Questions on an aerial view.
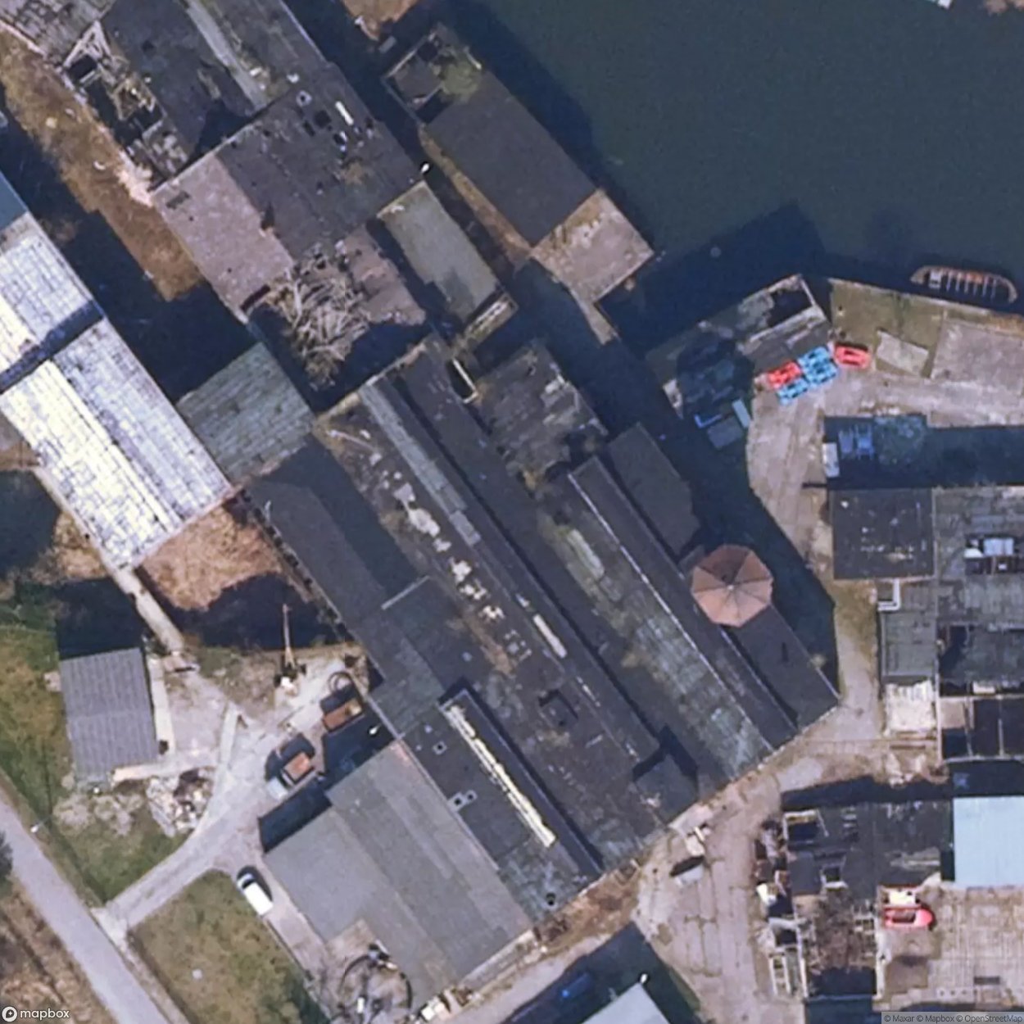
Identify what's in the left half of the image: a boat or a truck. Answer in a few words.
truck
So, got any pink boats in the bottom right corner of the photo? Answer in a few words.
Yes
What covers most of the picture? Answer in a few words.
buildings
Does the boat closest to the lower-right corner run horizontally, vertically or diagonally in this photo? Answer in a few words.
horizontally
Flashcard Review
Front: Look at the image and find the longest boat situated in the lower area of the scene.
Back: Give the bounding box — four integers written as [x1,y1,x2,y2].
[885,908,935,929]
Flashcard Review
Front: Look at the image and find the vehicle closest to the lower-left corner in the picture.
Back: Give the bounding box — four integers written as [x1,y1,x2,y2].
[233,865,275,920]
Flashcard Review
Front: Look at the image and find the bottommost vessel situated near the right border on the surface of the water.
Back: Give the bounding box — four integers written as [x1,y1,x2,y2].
[913,266,1014,313]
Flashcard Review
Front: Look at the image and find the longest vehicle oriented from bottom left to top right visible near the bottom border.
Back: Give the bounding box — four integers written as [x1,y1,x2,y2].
[556,960,610,1004]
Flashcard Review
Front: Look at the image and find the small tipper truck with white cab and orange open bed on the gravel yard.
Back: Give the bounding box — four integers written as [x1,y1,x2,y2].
[264,753,318,797]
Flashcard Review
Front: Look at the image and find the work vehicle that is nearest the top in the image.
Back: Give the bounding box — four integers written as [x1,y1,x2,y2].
[272,598,310,694]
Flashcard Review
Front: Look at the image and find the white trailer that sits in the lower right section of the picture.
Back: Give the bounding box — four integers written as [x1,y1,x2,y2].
[884,886,922,906]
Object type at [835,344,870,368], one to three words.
boat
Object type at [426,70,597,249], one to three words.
shed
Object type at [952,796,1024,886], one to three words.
building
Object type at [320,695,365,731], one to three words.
trailer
